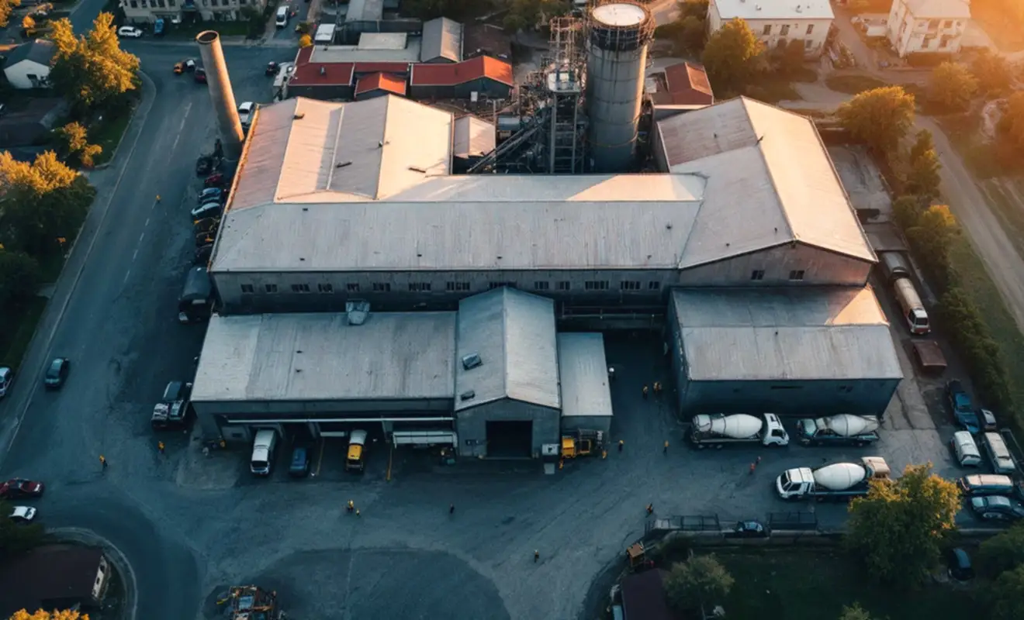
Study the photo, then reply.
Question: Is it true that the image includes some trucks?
Yes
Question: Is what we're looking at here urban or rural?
urban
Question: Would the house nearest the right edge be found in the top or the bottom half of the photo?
top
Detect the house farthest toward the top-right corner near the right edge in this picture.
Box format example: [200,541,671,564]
[884,0,979,55]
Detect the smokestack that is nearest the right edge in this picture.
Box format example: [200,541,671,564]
[194,31,244,168]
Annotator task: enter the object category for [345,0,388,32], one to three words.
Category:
shed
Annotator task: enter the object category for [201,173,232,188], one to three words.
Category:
car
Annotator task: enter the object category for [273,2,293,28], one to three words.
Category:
vehicle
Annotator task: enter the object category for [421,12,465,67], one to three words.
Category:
shed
